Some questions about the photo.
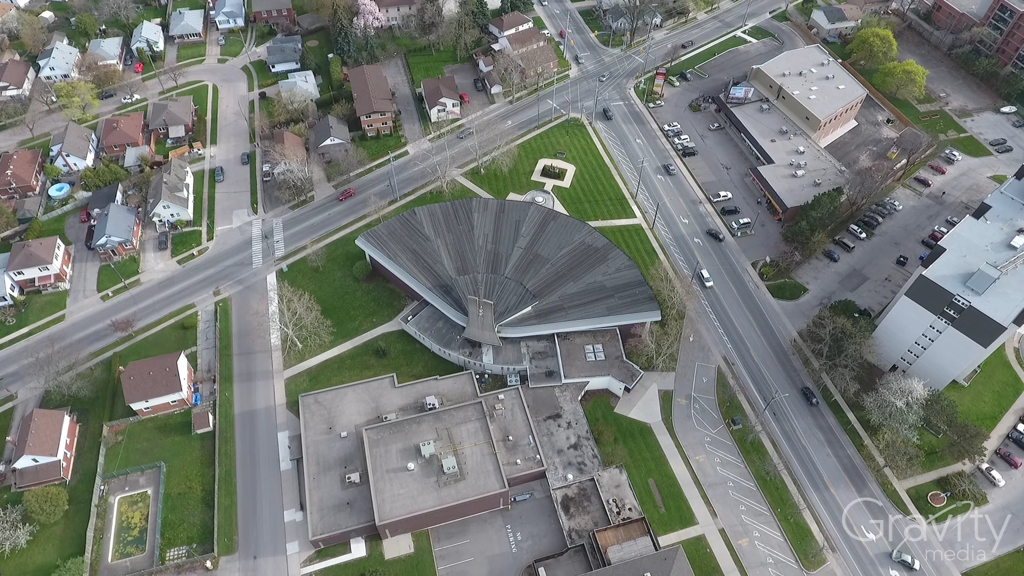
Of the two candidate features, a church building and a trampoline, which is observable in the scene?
church building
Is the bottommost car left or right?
right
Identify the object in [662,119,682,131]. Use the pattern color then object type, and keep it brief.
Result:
white vehicle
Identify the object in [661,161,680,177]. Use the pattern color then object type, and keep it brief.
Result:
gray car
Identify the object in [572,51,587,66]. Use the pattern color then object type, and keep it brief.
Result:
gray car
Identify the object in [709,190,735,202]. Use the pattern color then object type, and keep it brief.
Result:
white vehicle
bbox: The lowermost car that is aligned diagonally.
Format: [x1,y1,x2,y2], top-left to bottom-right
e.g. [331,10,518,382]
[890,550,921,573]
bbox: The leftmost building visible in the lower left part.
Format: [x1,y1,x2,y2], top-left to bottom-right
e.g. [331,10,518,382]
[11,408,73,486]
